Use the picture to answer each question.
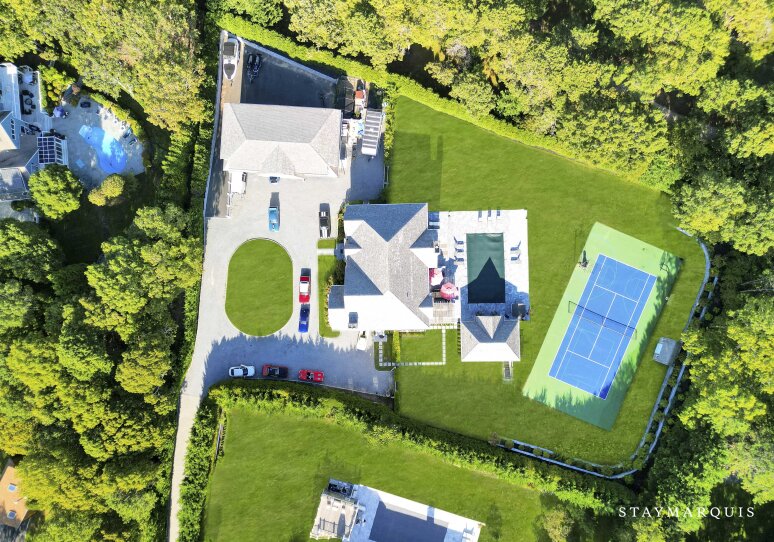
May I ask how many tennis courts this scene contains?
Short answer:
one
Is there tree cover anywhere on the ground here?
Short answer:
Yes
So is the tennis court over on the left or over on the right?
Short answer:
right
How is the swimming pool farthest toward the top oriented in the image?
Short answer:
diagonally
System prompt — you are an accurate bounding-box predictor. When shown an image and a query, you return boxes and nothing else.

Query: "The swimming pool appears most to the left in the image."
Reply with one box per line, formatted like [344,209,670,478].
[78,123,128,175]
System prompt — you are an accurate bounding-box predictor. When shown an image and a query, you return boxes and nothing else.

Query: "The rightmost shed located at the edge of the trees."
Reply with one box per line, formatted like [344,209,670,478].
[649,336,677,365]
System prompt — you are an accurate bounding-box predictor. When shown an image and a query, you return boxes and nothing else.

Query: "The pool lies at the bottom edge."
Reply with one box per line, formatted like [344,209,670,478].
[364,498,450,542]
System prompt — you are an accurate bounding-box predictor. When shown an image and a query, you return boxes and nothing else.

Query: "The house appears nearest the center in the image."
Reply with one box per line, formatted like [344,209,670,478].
[328,203,440,343]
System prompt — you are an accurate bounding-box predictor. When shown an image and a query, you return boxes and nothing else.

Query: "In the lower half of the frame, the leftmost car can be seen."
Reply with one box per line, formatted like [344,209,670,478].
[228,363,255,378]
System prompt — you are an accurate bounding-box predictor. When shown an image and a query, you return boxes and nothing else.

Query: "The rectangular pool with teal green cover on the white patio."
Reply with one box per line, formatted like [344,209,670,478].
[466,232,506,305]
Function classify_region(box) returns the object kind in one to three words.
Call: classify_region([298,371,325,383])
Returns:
vehicle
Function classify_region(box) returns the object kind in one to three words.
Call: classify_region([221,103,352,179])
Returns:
building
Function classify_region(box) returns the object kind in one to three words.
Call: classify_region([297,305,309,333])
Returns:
vehicle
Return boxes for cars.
[318,210,330,239]
[261,365,289,378]
[268,206,279,233]
[298,275,310,304]
[297,305,309,333]
[298,371,325,383]
[228,363,255,378]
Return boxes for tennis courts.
[522,222,682,431]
